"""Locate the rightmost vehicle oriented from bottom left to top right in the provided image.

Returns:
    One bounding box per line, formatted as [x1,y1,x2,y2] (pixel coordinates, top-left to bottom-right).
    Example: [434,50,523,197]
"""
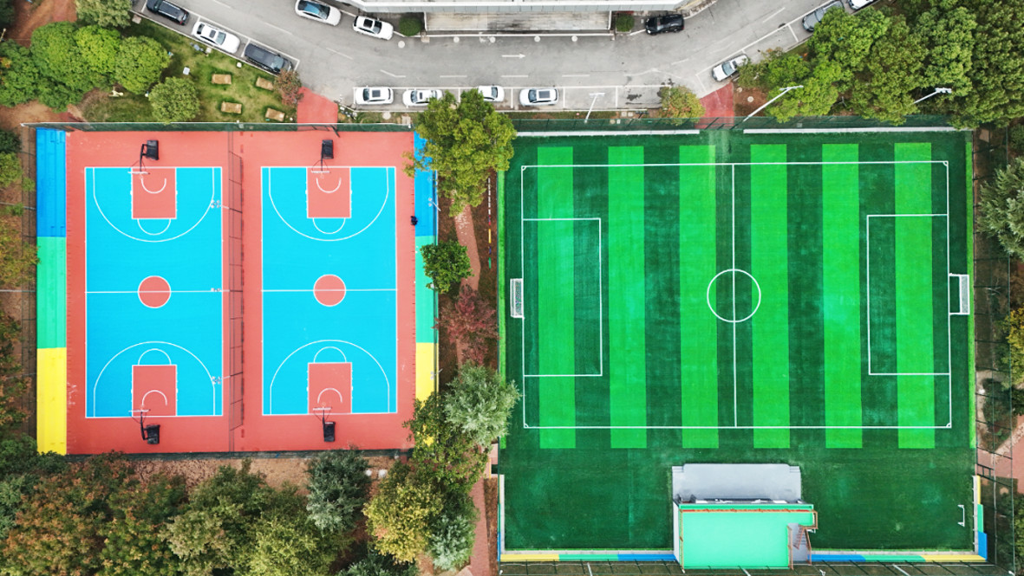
[801,0,844,33]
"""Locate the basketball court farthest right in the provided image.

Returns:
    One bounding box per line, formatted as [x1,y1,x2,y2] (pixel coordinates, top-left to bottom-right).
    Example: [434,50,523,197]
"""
[242,132,415,452]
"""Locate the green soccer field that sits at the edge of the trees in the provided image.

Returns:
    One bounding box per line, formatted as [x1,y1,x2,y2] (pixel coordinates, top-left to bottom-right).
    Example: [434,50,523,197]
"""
[499,128,977,556]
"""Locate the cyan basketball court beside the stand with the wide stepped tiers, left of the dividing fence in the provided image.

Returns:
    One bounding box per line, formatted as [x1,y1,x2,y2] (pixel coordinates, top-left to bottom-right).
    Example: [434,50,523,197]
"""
[66,132,242,454]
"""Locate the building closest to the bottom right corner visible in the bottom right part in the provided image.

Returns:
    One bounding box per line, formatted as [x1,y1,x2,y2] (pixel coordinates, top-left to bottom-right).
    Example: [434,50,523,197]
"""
[673,494,817,572]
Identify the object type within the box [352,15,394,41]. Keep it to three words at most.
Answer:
car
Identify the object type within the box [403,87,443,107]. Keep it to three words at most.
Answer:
car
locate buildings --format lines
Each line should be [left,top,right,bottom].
[342,0,689,12]
[673,494,817,572]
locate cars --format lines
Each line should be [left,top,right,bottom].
[466,83,506,104]
[192,21,240,53]
[643,13,686,36]
[520,86,559,107]
[352,15,394,41]
[709,52,752,84]
[403,87,443,107]
[244,41,293,74]
[355,84,395,105]
[295,0,341,27]
[801,0,844,33]
[145,0,192,27]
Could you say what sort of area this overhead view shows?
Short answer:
sports ground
